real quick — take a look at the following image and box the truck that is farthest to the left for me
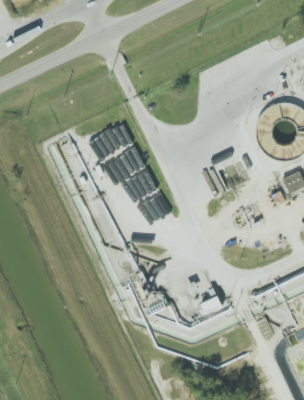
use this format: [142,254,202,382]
[6,24,46,46]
